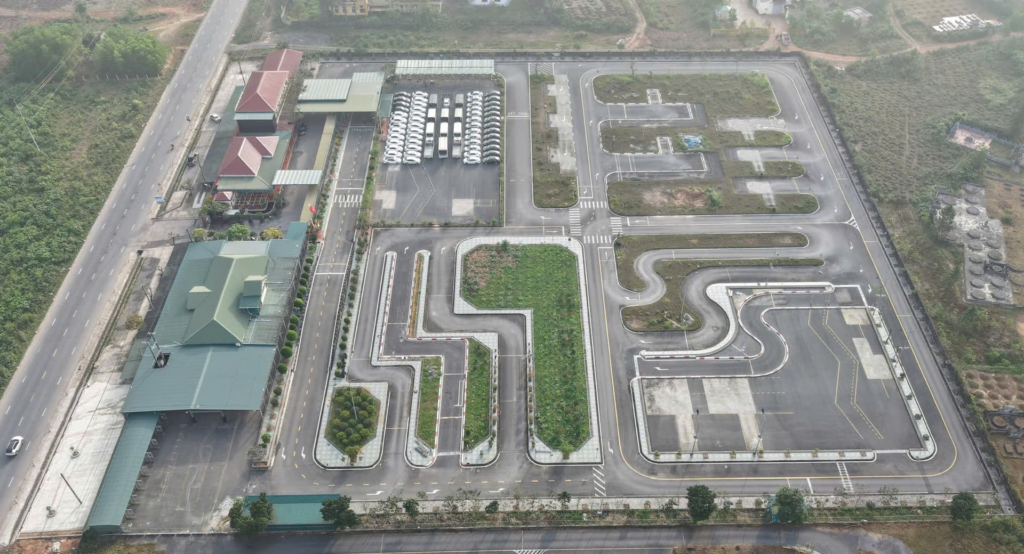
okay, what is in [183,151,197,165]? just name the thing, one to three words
vehicle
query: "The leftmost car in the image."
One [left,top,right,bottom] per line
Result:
[4,436,25,459]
